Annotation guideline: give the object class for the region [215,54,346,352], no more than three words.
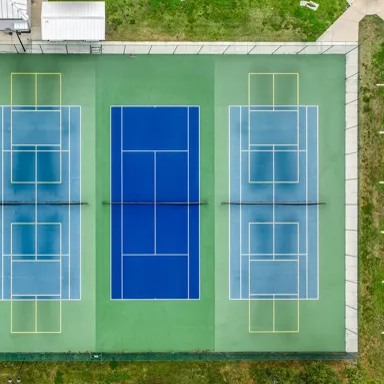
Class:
tennis court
